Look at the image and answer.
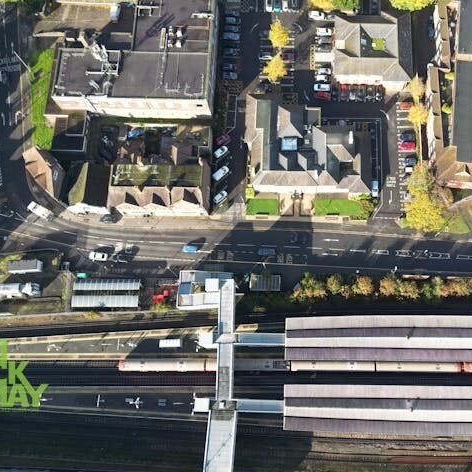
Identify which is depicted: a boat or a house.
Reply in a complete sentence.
The image shows a house.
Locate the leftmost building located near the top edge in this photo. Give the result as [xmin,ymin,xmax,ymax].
[50,0,221,118]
